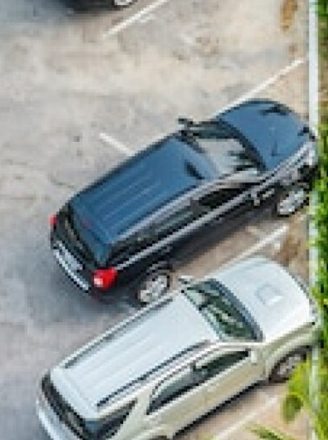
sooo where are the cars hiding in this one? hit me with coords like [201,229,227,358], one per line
[31,255,319,440]
[42,104,320,316]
